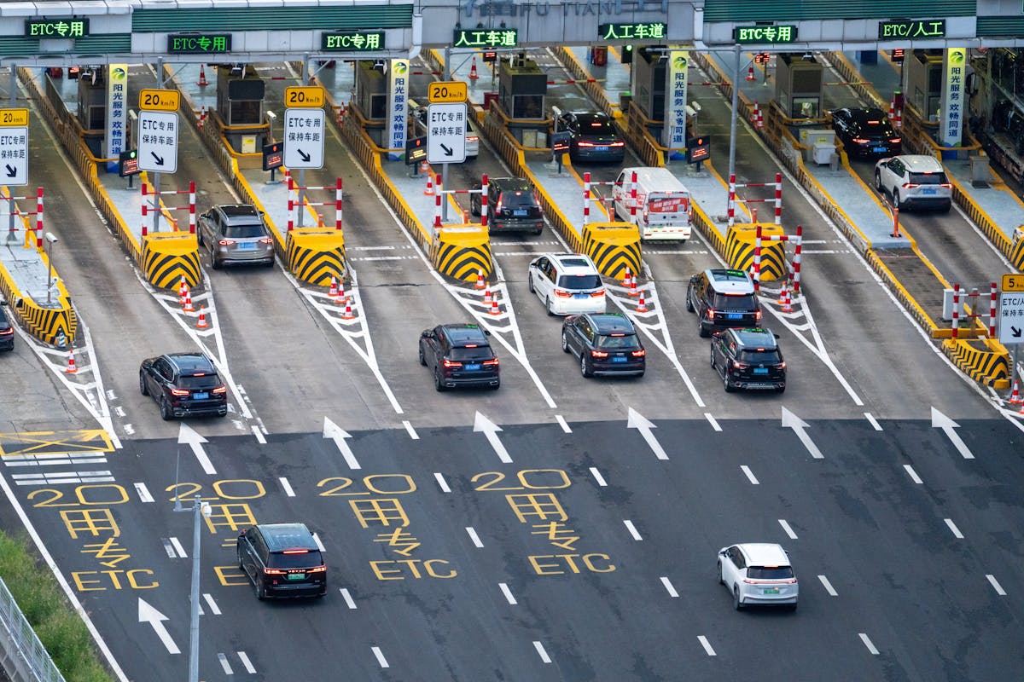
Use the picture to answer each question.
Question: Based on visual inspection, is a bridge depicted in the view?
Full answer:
No, there appears to be no bridge in this shot.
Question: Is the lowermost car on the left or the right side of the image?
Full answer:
You can find the lowermost car on the right side of the picture.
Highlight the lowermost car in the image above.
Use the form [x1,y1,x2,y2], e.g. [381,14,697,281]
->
[720,546,799,611]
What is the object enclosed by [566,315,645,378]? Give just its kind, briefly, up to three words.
car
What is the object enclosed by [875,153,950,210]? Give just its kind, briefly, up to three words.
car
